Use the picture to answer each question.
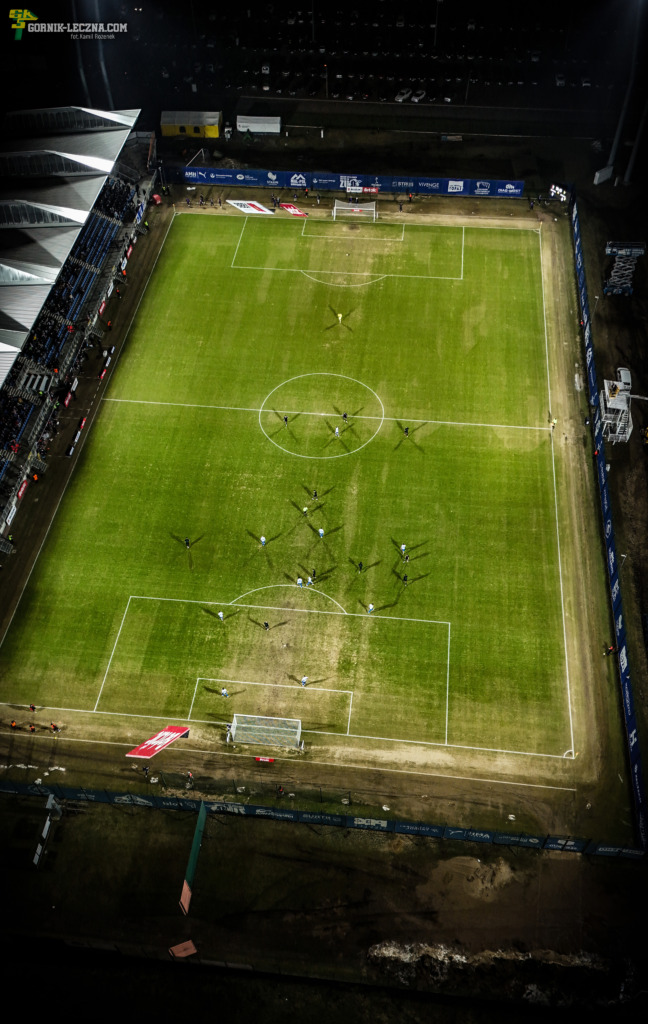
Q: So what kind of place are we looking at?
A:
sports ground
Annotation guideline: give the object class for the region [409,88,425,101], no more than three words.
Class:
vehicle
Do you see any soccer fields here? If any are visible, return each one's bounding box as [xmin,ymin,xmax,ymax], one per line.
[0,212,576,760]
